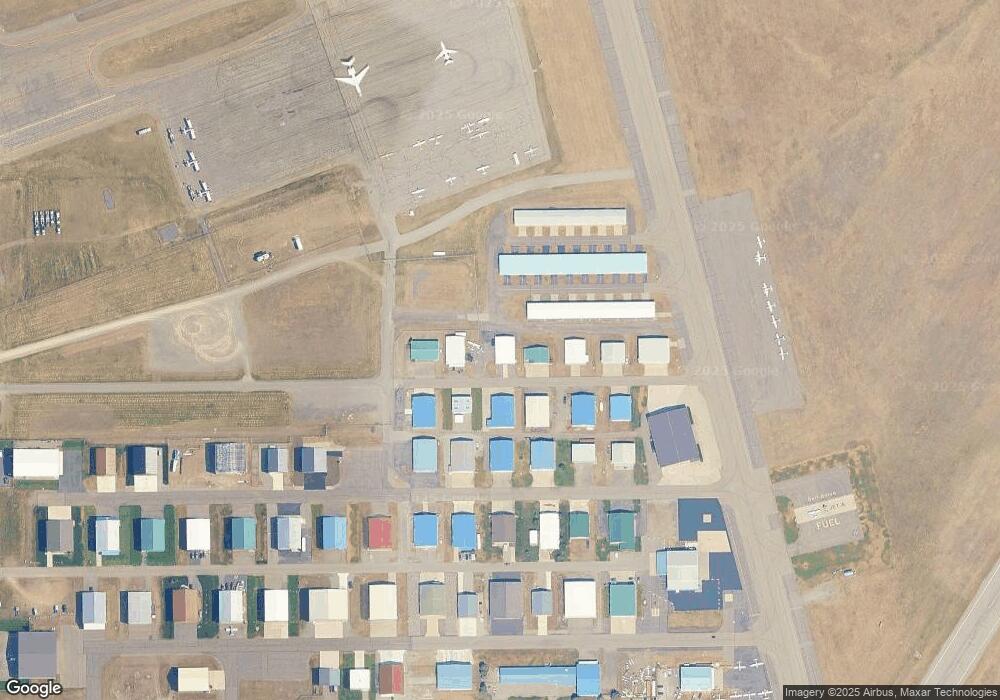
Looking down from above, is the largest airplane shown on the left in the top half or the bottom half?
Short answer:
top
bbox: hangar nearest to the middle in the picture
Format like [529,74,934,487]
[495,336,515,364]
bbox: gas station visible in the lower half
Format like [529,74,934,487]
[774,466,864,557]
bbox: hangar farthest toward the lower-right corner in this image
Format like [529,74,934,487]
[681,667,713,691]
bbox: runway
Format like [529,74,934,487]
[0,0,310,165]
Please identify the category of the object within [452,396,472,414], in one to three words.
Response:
building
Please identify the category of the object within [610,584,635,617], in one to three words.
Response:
hangar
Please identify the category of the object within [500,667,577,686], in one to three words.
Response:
building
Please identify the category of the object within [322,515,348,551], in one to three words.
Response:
hangar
